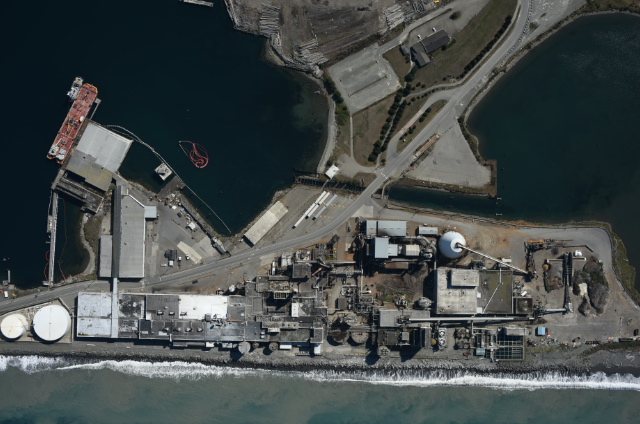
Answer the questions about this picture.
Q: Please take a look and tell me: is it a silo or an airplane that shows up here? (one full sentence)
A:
Of the two, only a silo appears.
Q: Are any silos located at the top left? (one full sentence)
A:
No, I see no silo at the top left.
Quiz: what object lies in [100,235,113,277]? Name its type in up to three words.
shed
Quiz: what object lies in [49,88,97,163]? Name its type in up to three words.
ship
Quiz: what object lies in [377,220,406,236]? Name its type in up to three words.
house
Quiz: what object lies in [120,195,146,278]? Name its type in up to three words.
shed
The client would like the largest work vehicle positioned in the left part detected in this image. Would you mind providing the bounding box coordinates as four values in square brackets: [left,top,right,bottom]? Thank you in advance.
[211,236,228,256]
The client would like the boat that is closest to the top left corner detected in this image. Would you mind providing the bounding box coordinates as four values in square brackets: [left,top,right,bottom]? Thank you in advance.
[71,77,85,99]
